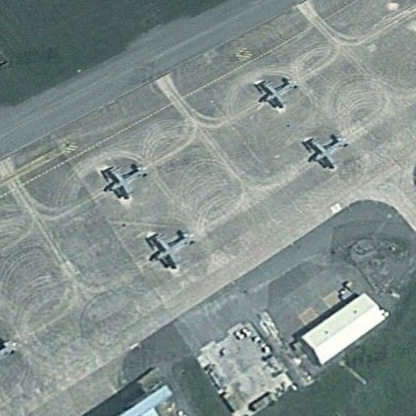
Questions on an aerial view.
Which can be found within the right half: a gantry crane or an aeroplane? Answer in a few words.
aeroplane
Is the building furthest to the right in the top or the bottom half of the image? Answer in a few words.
bottom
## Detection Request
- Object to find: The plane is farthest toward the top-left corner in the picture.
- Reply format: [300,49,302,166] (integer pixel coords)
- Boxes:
[109,163,149,199]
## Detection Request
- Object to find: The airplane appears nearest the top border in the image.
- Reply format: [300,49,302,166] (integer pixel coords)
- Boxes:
[258,75,301,112]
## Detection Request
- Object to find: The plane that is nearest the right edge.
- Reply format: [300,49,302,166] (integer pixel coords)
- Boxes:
[309,133,351,169]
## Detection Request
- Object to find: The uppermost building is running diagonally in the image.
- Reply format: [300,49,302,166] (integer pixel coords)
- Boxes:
[303,293,389,365]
